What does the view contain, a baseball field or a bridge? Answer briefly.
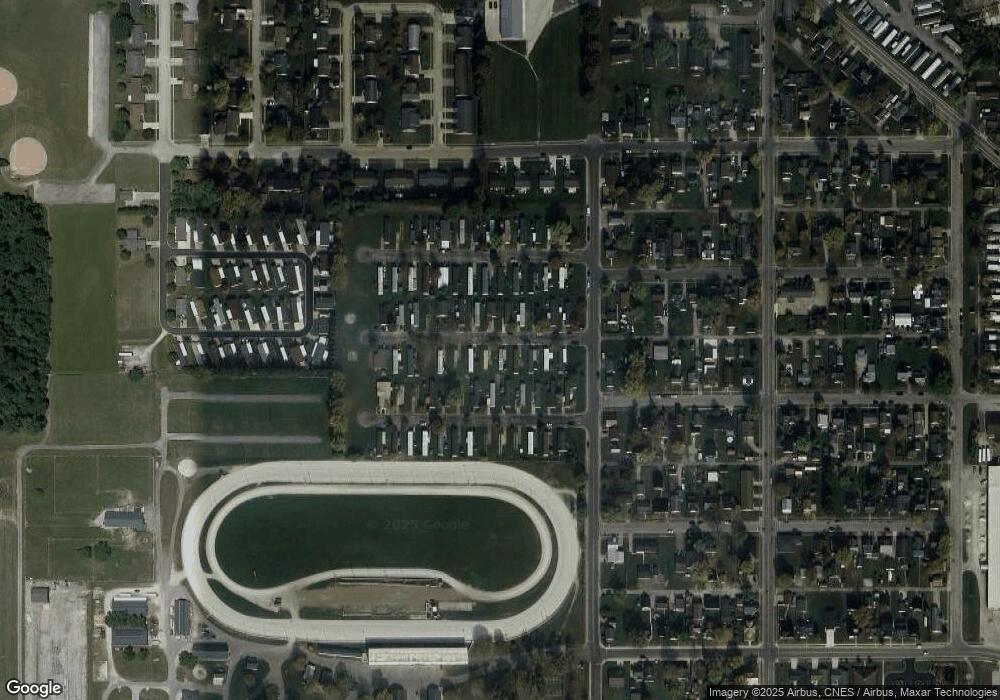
baseball field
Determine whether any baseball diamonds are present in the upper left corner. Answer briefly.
Yes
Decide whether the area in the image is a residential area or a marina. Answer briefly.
residential area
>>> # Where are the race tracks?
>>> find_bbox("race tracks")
[181,460,580,649]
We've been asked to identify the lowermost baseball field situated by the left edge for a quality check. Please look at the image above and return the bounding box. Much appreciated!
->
[10,139,47,176]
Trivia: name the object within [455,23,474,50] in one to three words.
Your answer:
building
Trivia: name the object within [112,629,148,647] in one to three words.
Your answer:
barn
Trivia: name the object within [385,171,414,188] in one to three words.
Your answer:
building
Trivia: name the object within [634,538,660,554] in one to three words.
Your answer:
house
